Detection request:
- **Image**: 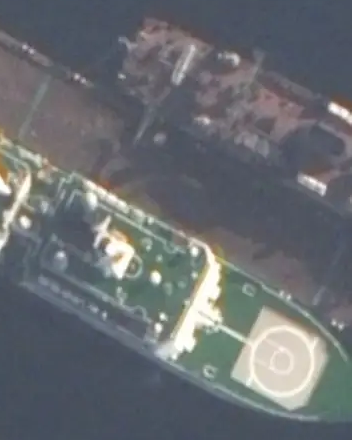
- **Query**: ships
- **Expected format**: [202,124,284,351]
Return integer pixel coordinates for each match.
[118,16,352,220]
[0,132,352,421]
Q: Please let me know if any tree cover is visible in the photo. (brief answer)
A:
No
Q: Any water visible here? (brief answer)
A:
Yes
